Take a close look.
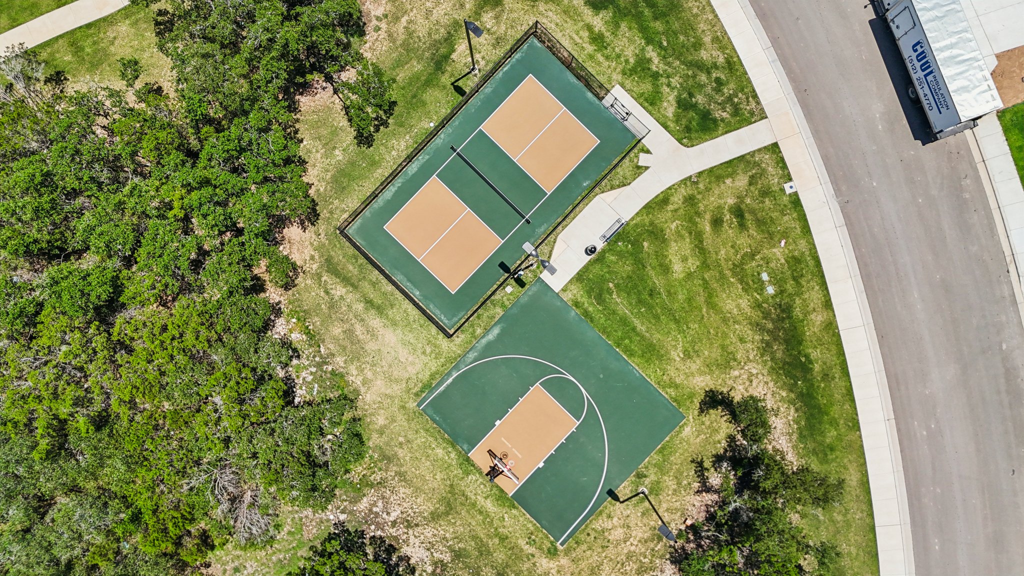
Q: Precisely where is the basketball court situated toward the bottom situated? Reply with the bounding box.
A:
[416,277,687,547]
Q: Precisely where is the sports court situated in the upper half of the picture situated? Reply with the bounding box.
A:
[345,35,636,331]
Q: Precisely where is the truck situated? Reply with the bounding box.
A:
[871,0,1004,139]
